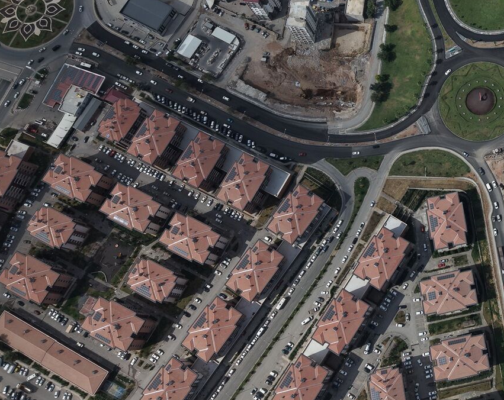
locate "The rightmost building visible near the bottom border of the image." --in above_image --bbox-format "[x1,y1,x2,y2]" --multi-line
[430,335,490,380]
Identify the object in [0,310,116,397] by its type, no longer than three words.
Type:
building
